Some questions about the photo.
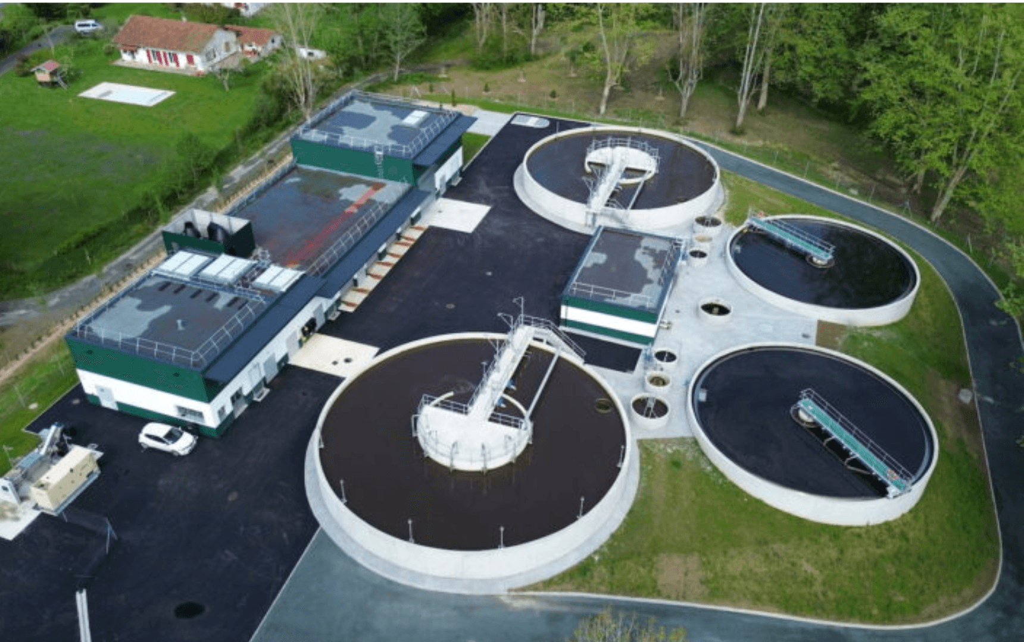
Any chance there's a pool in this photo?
Yes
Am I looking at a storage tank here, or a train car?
storage tank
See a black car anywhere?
No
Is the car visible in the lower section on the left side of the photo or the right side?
left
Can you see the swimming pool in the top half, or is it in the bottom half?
top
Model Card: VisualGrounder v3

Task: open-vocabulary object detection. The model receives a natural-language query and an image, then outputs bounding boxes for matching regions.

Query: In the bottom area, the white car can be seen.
[132,421,193,456]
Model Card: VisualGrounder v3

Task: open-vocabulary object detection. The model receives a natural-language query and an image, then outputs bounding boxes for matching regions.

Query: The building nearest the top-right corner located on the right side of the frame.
[558,225,691,347]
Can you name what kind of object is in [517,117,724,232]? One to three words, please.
storage tank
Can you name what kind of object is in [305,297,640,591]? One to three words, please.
storage tank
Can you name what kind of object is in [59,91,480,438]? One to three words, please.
building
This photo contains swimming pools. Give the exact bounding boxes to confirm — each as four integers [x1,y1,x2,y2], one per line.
[78,81,176,106]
